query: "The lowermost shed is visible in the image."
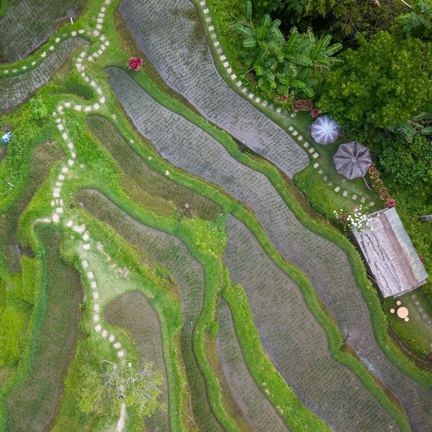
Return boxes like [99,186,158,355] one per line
[349,204,429,297]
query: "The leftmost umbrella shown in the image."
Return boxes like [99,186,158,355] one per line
[310,116,337,144]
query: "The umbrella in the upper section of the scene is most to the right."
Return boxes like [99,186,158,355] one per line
[330,141,369,179]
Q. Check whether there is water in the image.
Yes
